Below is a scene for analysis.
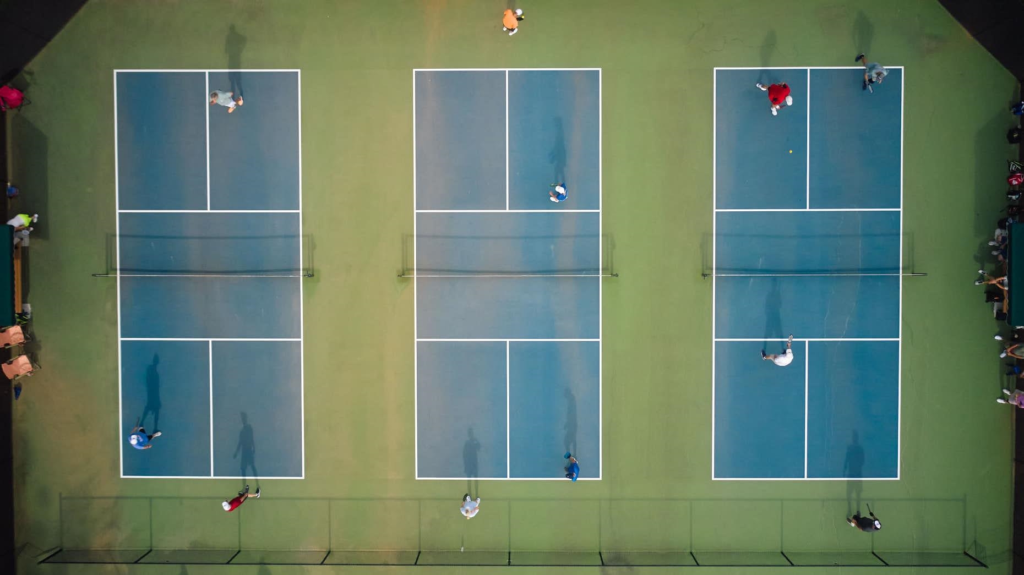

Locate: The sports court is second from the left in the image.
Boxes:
[414,68,601,479]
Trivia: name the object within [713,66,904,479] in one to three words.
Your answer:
sports court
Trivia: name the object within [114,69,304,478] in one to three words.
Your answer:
sports court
